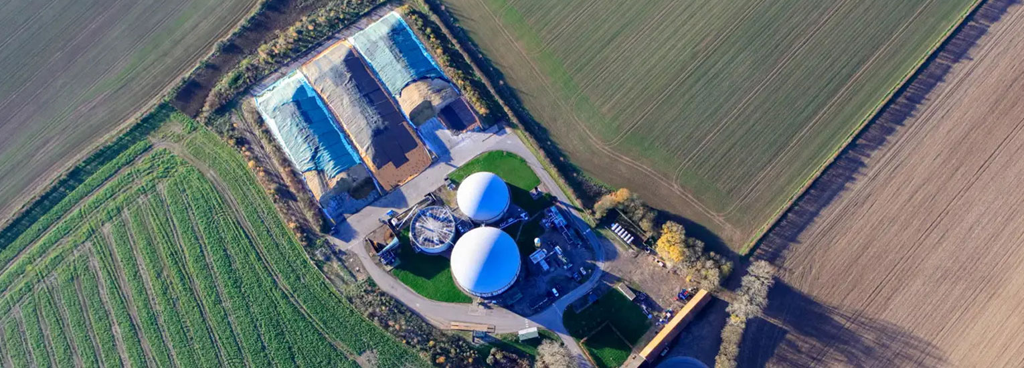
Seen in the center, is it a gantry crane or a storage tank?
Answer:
storage tank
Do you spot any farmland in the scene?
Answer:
Yes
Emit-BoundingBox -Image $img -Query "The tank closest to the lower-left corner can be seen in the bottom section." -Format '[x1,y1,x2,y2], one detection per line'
[409,206,459,256]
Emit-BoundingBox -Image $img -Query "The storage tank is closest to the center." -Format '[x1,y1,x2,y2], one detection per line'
[455,171,511,226]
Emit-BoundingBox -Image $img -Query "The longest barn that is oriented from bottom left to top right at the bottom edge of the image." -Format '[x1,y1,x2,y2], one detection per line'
[635,287,712,364]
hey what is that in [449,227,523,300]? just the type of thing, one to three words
storage tank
